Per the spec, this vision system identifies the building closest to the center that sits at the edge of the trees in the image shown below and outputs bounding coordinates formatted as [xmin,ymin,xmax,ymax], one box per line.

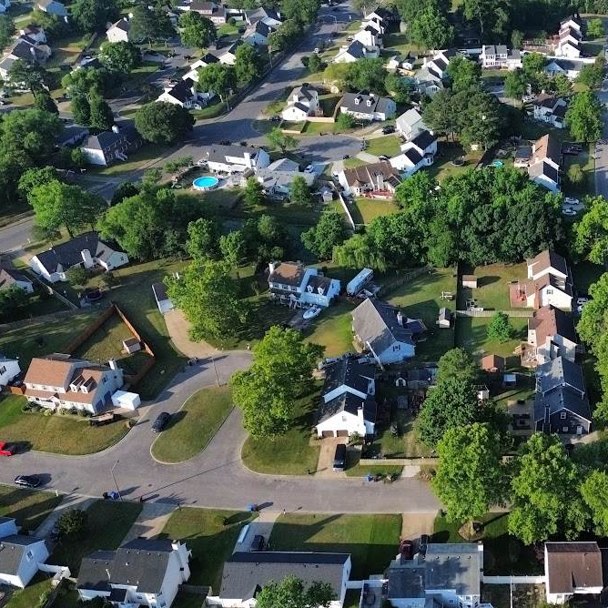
[266,263,341,310]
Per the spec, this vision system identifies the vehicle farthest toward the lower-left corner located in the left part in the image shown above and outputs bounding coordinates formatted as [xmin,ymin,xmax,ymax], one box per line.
[11,471,46,490]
